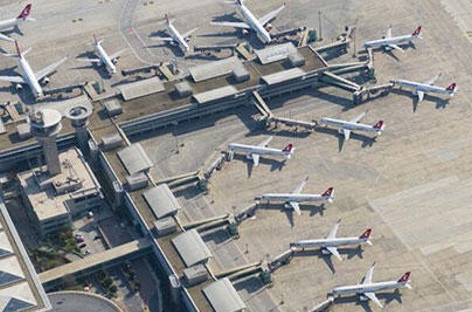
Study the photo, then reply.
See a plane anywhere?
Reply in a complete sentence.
Yes, you can see a plane in this photo.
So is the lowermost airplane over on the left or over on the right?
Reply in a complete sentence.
The lowermost airplane appears in the right half of the scene.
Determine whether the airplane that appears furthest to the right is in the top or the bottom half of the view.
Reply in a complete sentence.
The top half of the photo is where the airplane that appears furthest to the right is.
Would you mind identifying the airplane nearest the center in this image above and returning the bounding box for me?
[228,133,294,167]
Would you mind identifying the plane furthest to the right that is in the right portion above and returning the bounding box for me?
[395,72,458,102]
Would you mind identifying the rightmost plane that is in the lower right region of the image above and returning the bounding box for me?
[332,262,411,309]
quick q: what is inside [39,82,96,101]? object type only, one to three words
jet bridge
